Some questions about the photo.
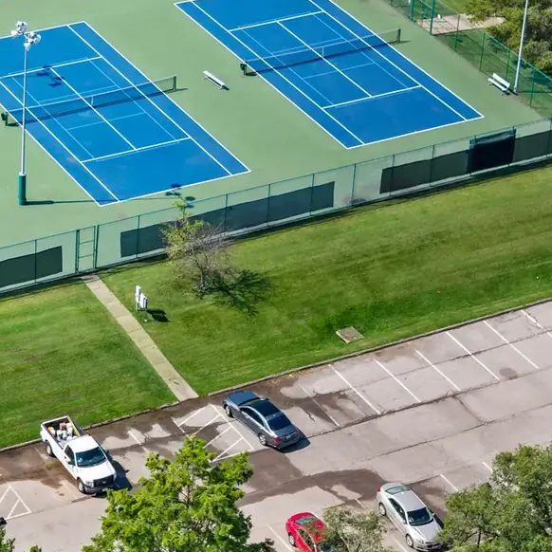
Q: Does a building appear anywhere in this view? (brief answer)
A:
No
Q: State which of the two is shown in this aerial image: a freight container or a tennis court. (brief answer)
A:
tennis court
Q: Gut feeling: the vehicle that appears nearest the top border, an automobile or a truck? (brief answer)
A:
automobile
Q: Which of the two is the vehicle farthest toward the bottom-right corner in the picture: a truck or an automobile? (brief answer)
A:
automobile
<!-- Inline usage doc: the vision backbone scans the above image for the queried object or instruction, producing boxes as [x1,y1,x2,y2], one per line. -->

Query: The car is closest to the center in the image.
[231,390,299,445]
